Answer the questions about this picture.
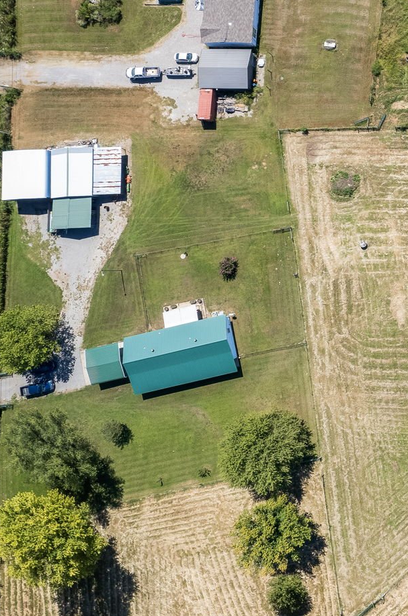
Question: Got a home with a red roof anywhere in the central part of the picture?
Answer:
No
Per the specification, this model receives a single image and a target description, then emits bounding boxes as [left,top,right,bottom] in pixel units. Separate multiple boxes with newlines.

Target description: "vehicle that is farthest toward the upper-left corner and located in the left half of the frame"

[126,65,159,79]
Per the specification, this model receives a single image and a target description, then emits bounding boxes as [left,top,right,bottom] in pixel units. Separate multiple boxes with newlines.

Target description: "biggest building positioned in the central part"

[123,315,241,395]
